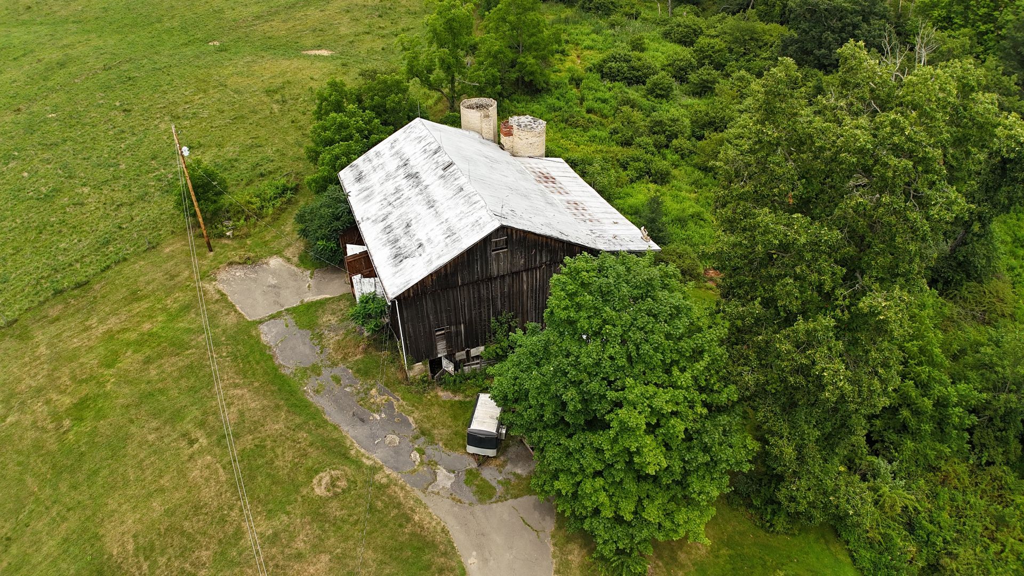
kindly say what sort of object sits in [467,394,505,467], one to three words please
trailer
